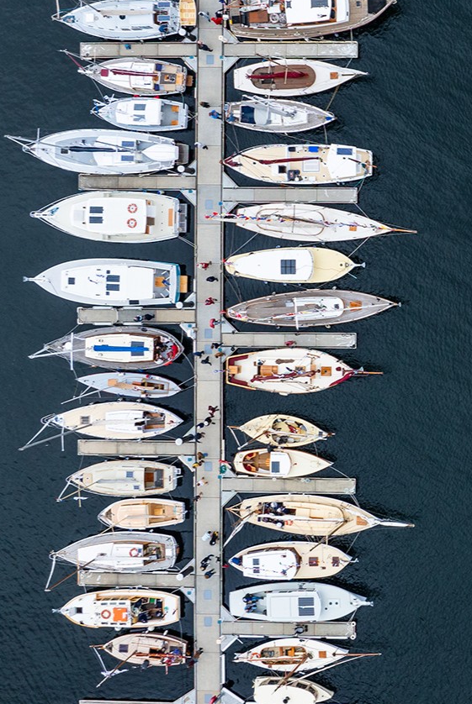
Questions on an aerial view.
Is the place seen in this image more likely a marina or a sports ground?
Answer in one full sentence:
This image shows a marina.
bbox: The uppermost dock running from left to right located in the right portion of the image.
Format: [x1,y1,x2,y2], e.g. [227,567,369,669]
[224,28,358,72]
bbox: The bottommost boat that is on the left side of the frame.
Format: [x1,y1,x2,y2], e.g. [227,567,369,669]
[89,632,192,688]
